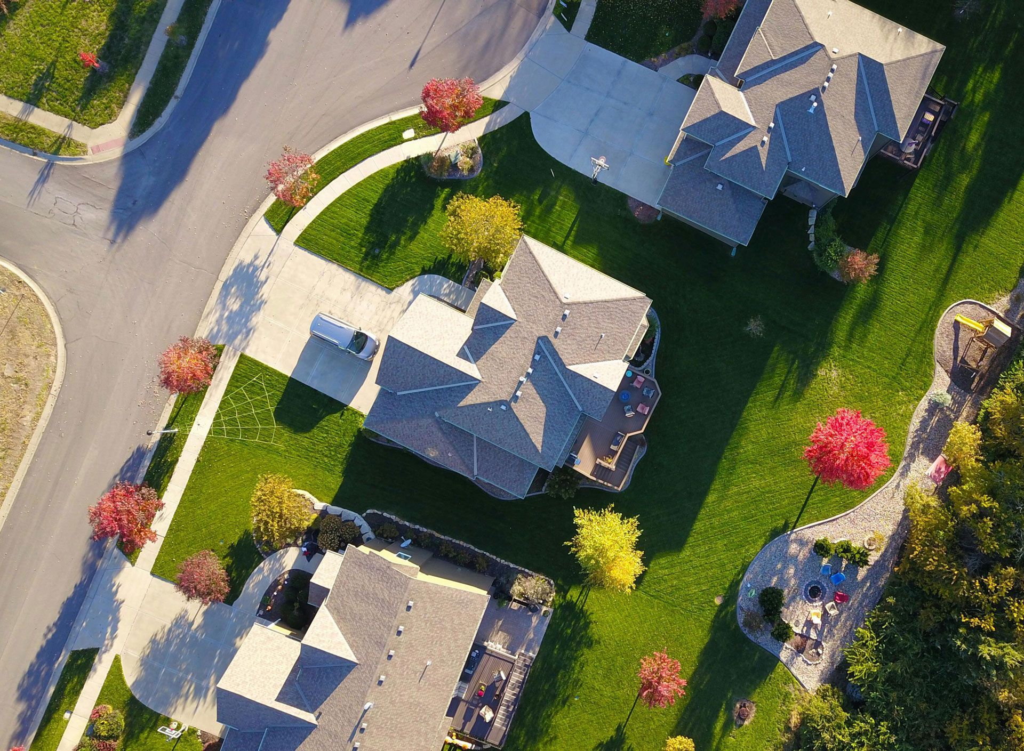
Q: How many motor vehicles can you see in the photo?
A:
1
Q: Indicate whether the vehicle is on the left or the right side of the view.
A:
left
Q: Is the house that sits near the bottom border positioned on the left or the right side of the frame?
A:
left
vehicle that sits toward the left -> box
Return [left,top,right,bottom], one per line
[309,318,379,363]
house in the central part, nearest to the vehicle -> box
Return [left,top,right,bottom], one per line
[362,235,652,499]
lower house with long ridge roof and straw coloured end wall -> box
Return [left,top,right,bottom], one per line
[216,542,494,751]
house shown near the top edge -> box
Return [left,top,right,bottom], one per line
[653,0,946,266]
